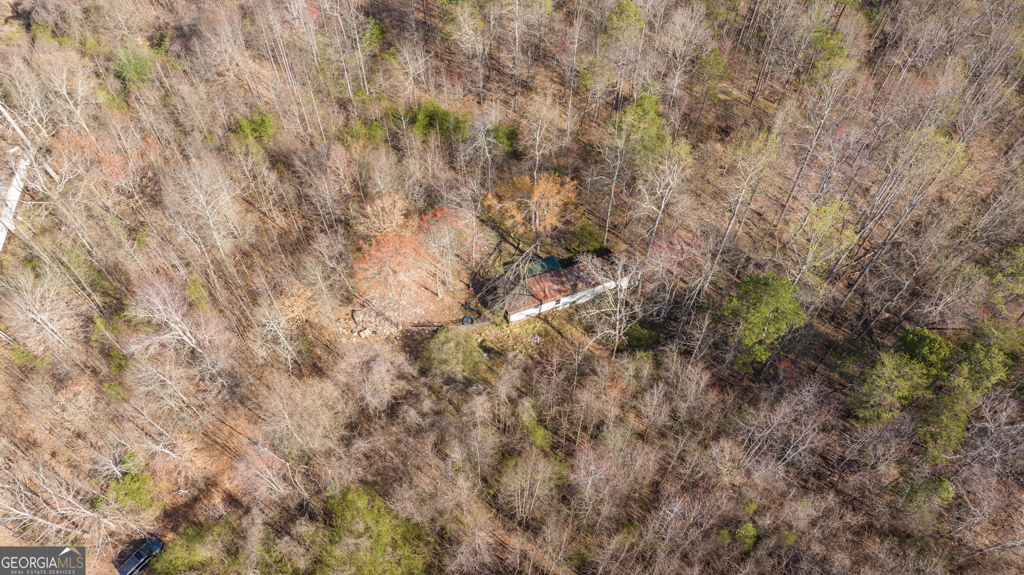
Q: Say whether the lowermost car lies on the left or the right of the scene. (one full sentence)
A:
It is on the left.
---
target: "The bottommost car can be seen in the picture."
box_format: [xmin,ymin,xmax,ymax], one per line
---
[121,539,162,575]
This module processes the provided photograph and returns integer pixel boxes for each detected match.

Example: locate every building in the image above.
[0,146,33,246]
[498,248,633,322]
